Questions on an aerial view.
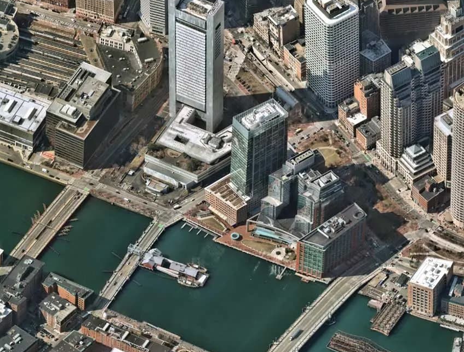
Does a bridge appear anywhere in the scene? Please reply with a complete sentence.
Yes, the picture does show a bridge.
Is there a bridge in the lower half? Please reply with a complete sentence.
Yes, looking in the lower half, one can make out a bridge.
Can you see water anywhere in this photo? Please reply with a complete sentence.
Yes, water can be seen from above here.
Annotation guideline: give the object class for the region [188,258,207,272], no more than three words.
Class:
ship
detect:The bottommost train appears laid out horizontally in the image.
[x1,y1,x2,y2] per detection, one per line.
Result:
[0,71,43,84]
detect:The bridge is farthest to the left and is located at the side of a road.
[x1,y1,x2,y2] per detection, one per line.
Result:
[5,184,90,264]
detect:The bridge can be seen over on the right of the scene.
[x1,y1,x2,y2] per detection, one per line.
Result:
[264,261,386,352]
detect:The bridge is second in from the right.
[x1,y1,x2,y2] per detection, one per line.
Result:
[103,219,165,304]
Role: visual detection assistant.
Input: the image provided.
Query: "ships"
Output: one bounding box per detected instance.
[179,274,200,289]
[188,258,207,272]
[451,337,461,352]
